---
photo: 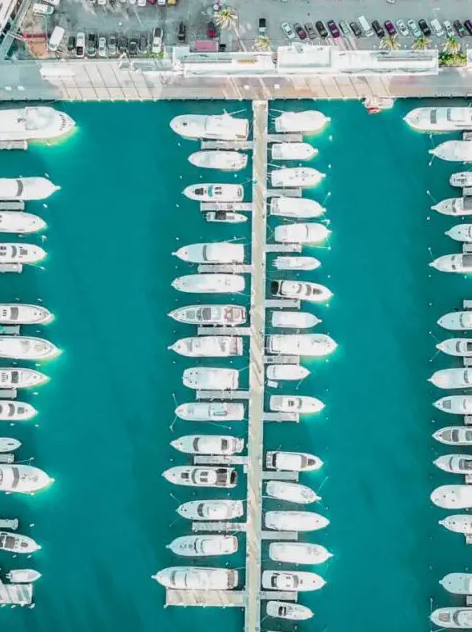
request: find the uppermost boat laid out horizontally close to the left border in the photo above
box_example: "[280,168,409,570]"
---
[0,107,75,142]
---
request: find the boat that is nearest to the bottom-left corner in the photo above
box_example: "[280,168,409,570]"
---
[10,566,43,583]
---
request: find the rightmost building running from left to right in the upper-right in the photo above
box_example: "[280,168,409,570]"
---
[277,34,439,80]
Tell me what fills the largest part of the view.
water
